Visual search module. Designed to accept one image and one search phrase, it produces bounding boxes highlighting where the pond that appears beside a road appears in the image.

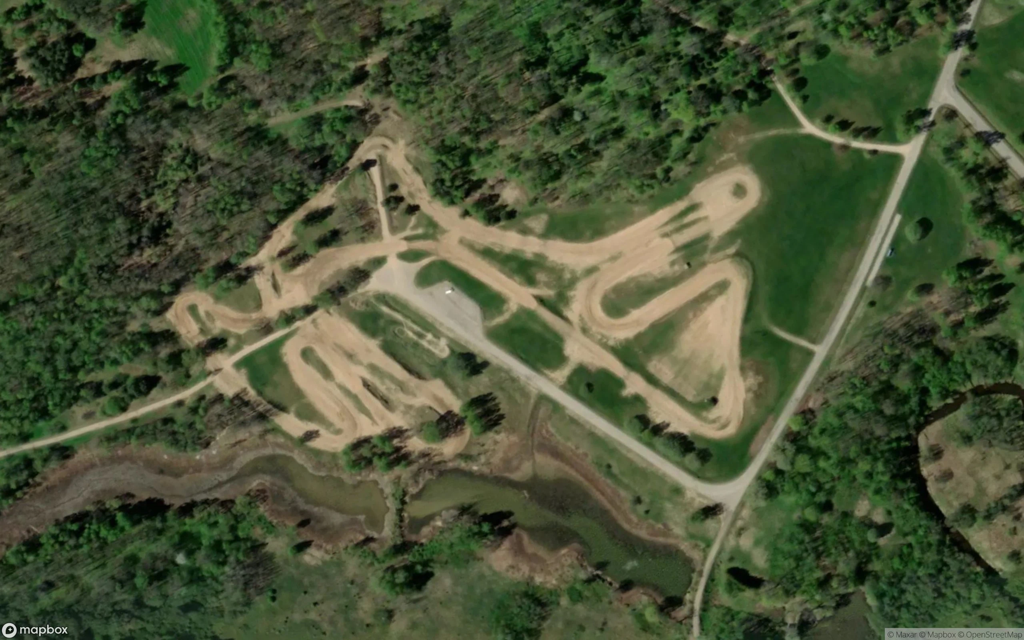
[238,454,694,605]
